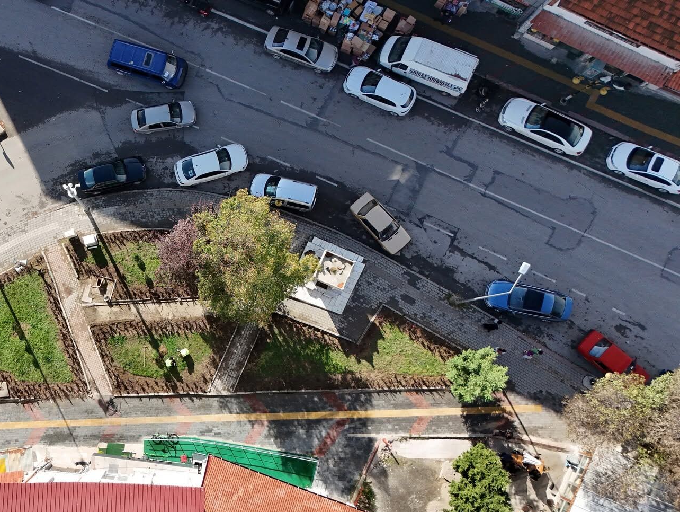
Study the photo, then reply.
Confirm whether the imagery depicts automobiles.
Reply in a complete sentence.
Yes, you can see an automobile in this photo.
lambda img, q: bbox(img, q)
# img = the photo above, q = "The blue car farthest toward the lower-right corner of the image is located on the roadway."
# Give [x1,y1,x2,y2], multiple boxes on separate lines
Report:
[483,281,575,325]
